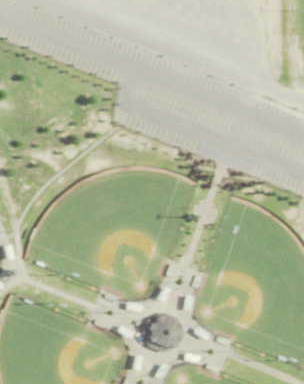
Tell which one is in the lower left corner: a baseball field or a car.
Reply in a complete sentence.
What appears in the lower left corner is a baseball field.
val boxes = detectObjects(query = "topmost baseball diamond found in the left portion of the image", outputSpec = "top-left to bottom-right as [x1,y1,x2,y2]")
[24,167,196,301]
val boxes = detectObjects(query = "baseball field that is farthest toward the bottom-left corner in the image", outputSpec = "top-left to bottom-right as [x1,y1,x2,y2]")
[0,296,127,384]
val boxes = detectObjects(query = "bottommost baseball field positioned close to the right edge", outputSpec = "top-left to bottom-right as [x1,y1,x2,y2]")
[197,198,304,368]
